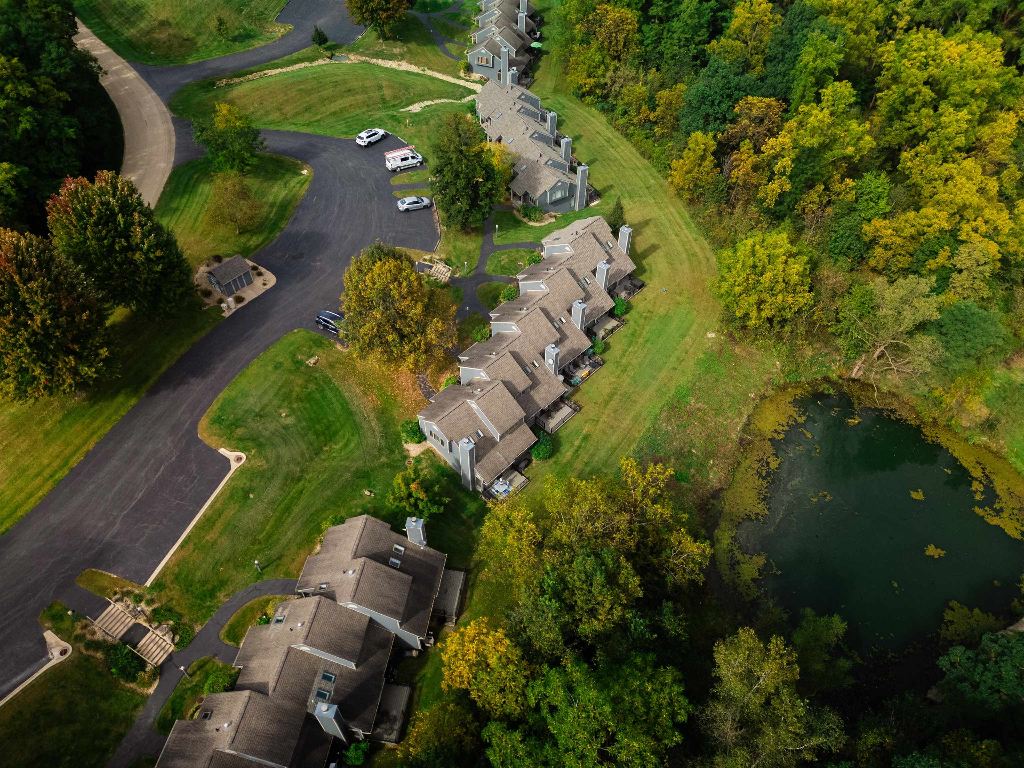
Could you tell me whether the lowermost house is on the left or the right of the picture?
left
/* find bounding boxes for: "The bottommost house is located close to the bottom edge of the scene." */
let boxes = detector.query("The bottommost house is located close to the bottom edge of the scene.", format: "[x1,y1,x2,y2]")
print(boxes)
[156,692,334,768]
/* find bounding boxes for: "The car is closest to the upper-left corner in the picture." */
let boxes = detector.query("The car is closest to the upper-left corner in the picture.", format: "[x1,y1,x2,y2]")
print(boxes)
[356,128,388,147]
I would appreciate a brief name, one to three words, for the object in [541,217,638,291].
house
